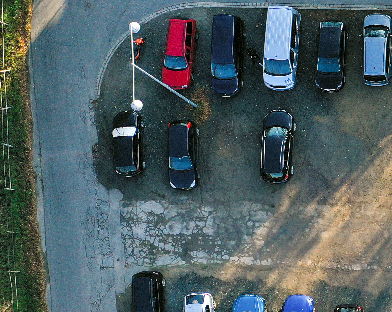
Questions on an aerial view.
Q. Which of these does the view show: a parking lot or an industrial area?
parking lot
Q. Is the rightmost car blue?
Yes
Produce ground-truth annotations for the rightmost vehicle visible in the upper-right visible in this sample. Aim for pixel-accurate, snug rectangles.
[357,12,392,89]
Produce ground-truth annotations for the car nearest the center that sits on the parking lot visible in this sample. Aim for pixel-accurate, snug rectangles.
[162,117,202,192]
